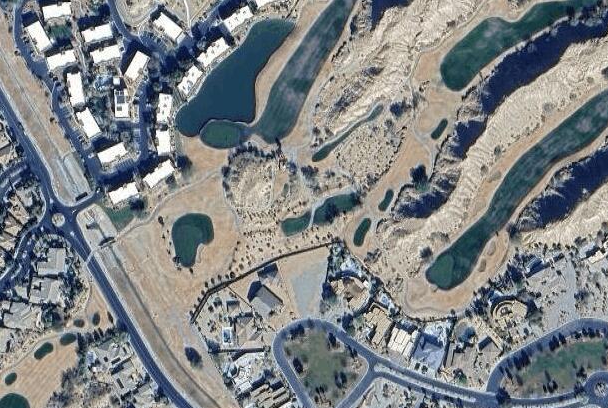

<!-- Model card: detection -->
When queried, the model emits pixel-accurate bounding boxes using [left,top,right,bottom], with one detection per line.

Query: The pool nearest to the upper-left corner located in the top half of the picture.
[97,77,113,91]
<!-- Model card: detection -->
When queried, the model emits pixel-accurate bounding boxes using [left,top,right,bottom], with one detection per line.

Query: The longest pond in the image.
[176,20,290,137]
